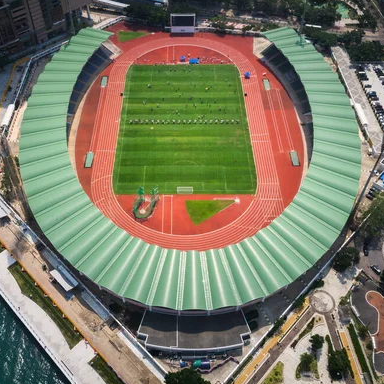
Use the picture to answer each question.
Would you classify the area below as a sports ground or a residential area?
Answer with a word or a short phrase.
sports ground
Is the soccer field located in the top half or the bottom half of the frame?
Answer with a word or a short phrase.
top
